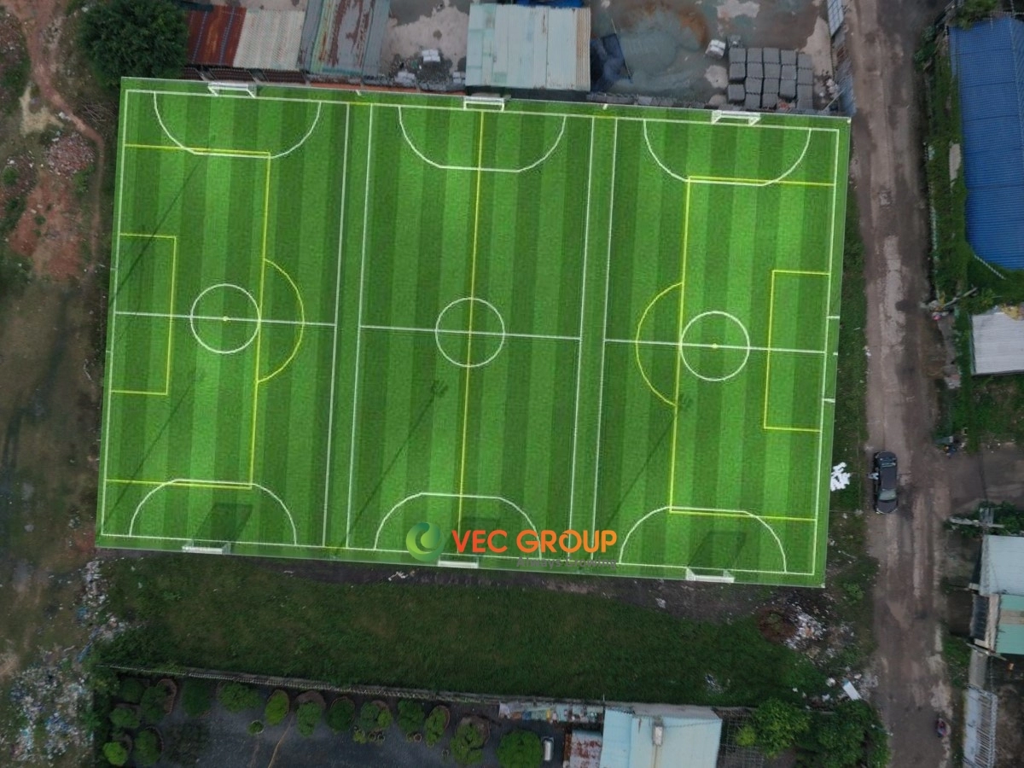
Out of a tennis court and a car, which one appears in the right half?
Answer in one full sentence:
Looking in the right half, you will find a car.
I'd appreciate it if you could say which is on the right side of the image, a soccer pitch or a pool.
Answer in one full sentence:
Visible on the right side of the image is a soccer pitch.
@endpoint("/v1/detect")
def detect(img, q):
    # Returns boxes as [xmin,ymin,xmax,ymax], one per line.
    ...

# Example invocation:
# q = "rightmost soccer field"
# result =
[580,104,851,587]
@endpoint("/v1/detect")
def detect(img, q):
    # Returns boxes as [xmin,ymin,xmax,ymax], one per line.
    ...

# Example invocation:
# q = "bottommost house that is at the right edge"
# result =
[960,589,1024,653]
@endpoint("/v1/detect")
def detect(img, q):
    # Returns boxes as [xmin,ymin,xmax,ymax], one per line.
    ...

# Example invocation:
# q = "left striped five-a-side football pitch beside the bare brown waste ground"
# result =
[96,77,360,560]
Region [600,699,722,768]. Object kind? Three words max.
house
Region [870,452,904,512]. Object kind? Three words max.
car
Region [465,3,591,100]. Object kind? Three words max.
shed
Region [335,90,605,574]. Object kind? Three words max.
soccer field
